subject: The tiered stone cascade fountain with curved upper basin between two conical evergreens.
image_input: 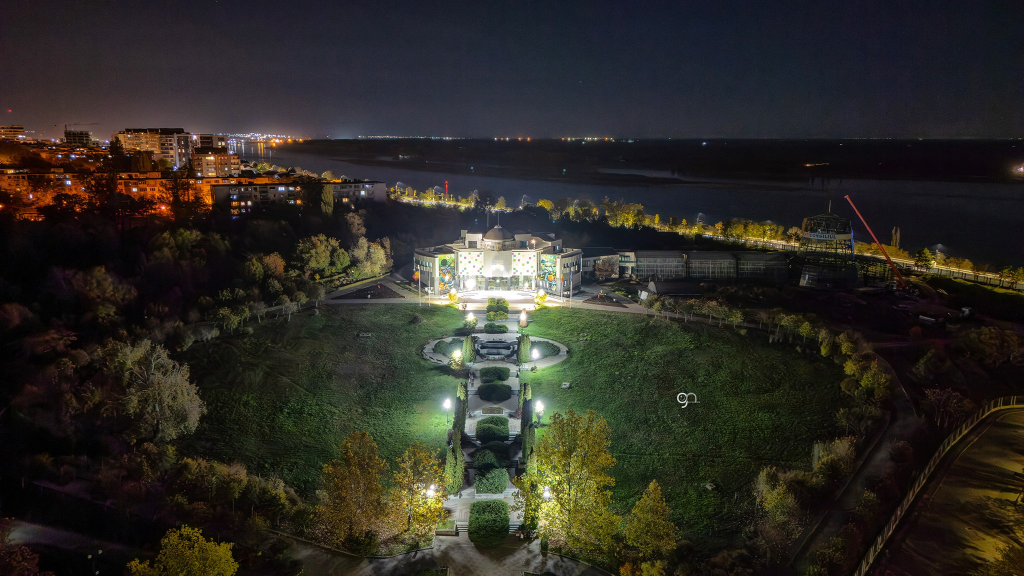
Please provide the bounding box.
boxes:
[480,341,511,361]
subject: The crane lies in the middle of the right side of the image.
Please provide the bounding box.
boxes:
[838,194,925,292]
